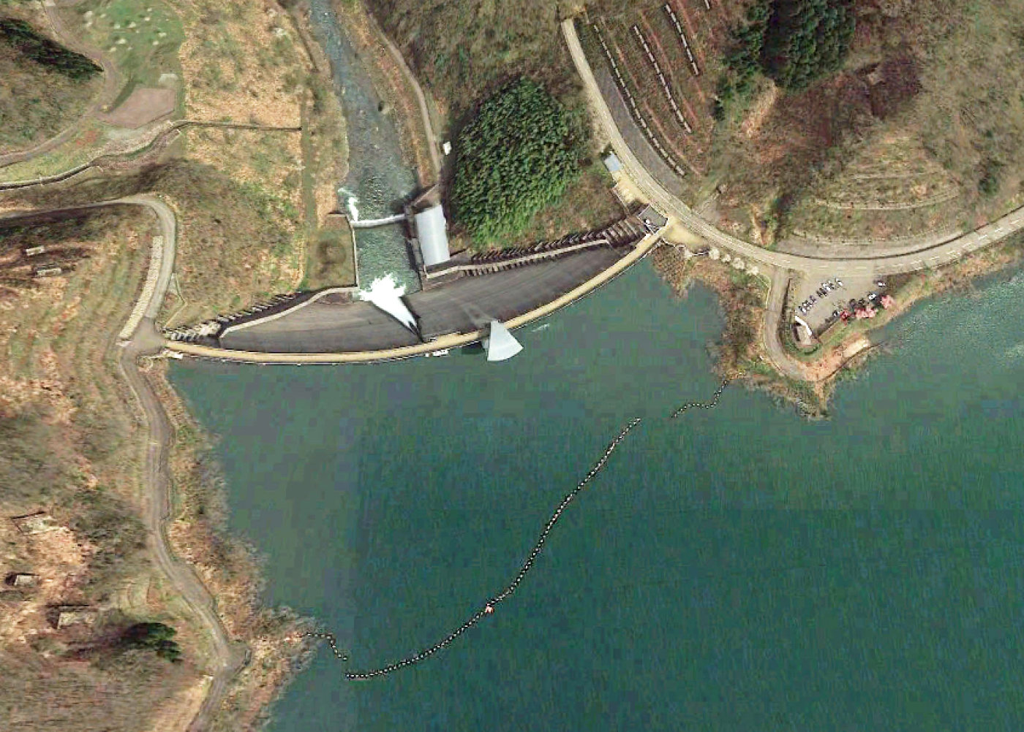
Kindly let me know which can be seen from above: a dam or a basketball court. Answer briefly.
dam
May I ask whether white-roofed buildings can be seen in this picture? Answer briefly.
Yes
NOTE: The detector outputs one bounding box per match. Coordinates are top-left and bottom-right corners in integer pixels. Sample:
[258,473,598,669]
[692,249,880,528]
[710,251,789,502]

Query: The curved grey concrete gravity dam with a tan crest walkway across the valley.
[139,199,709,362]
